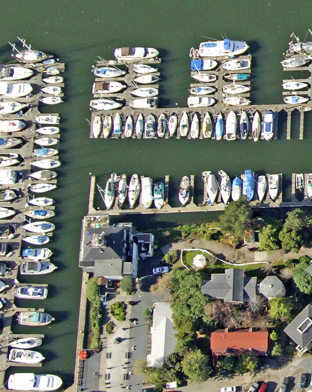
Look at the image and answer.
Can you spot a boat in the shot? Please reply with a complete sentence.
Yes, this view includes a boat.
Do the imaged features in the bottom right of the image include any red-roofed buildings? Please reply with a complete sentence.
Yes, the scene does show a red-roofed building in the bottom right of the image.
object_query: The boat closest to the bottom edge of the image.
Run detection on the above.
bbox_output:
[5,373,62,391]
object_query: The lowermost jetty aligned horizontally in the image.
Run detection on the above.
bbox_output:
[88,173,312,216]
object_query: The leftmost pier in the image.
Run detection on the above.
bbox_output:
[0,61,66,392]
